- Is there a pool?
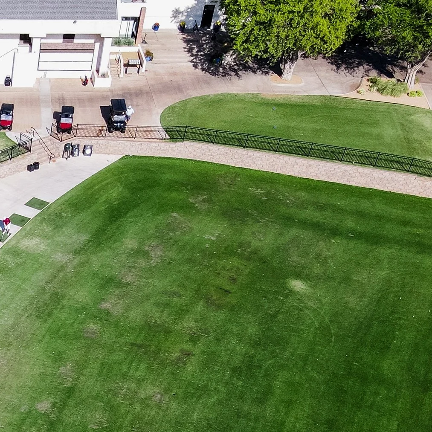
No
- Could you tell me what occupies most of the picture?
grass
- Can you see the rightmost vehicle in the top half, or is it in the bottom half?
top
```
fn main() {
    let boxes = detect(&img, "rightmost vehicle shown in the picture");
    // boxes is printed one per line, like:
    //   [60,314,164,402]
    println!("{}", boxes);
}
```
[104,97,124,127]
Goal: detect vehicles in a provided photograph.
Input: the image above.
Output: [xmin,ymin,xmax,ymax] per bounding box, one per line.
[104,97,124,127]
[55,105,71,132]
[0,103,11,129]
